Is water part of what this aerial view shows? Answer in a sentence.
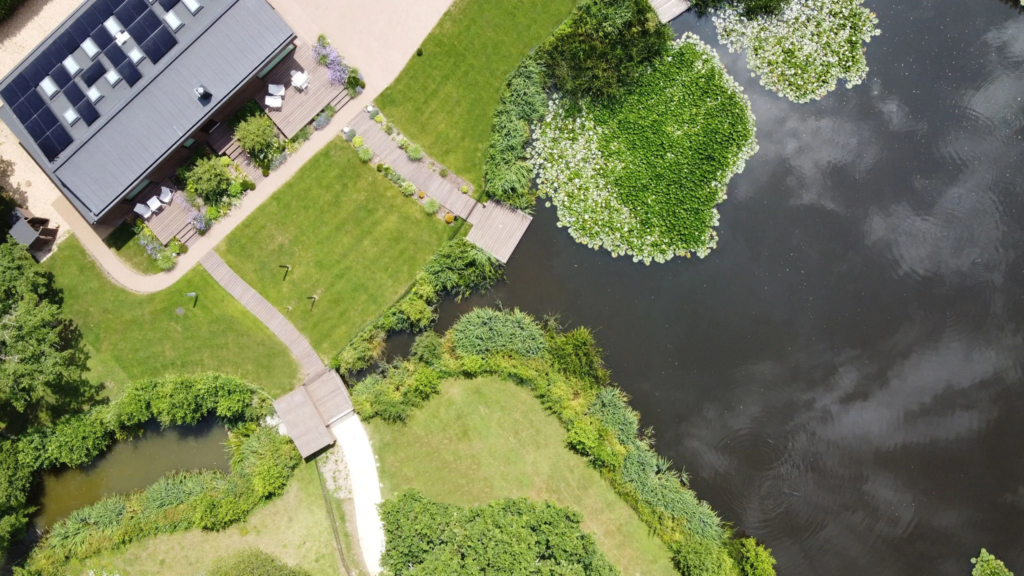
Yes, there's water in this view.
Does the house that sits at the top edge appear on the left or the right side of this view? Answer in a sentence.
The house that sits at the top edge sits on the left side.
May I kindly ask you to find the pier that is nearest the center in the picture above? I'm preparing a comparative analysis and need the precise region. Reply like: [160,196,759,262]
[465,201,533,264]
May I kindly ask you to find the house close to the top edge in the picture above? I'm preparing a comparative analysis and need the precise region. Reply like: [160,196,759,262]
[0,0,311,229]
